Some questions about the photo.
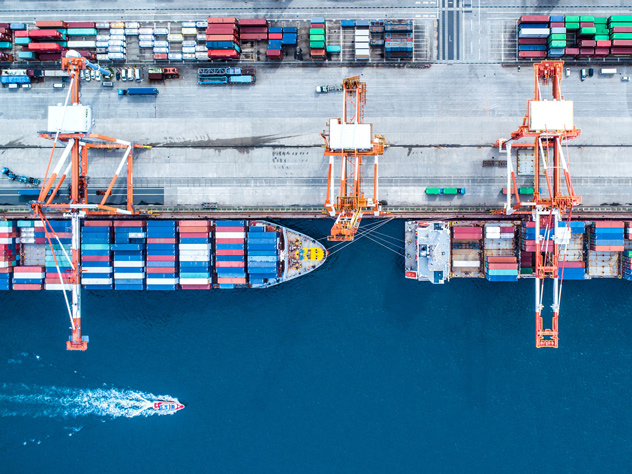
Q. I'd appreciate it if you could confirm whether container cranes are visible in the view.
Yes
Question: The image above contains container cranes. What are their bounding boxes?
[25,51,153,351]
[319,72,391,245]
[490,60,584,349]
